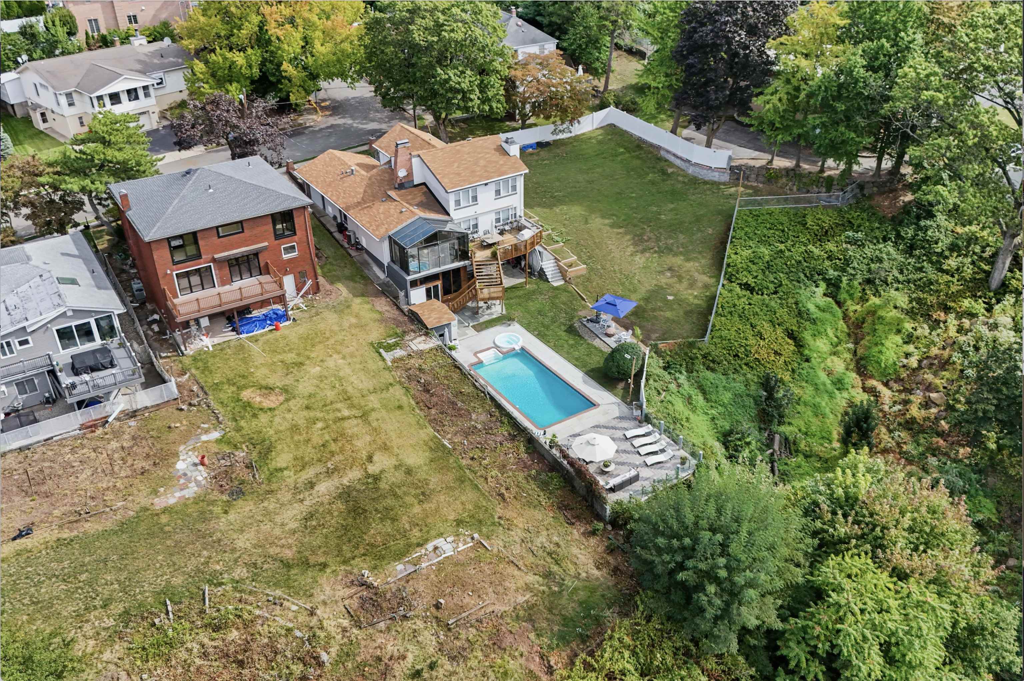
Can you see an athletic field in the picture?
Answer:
No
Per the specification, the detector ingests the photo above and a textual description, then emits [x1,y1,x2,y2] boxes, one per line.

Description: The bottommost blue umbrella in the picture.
[589,288,638,323]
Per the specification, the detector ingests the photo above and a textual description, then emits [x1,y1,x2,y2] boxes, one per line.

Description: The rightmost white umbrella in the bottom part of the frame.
[564,424,617,463]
